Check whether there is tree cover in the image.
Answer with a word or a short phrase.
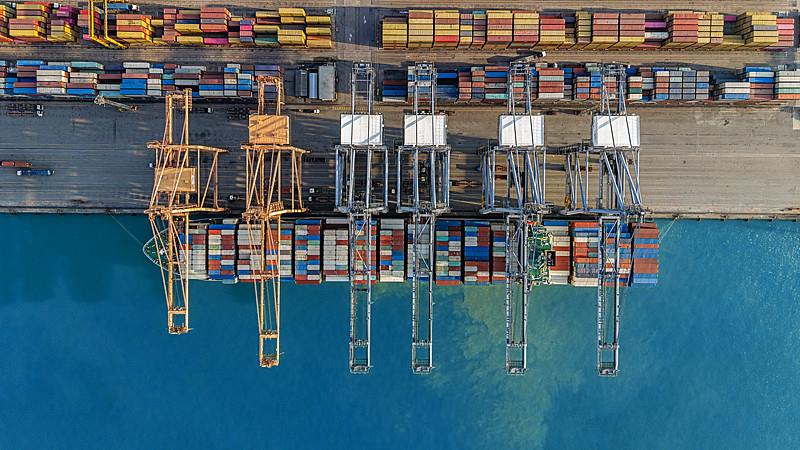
No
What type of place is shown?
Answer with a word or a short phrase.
port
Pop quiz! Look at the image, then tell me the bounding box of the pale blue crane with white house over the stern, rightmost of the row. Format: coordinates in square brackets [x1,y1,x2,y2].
[547,64,644,377]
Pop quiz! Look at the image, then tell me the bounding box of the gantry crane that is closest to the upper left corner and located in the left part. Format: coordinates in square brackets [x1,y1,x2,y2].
[88,0,128,52]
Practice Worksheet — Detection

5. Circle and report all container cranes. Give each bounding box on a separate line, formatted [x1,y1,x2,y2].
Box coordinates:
[331,62,394,374]
[88,0,128,52]
[468,57,548,375]
[392,62,454,374]
[241,77,323,367]
[547,64,644,377]
[144,88,243,334]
